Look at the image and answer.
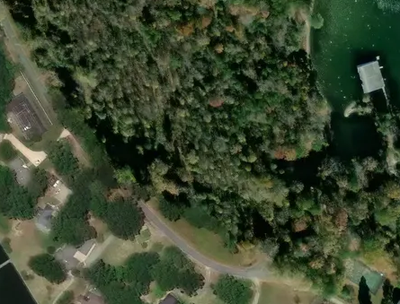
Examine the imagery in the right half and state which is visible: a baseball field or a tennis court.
tennis court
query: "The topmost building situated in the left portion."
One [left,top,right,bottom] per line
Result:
[5,156,35,185]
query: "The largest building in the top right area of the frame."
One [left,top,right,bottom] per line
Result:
[356,58,384,92]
